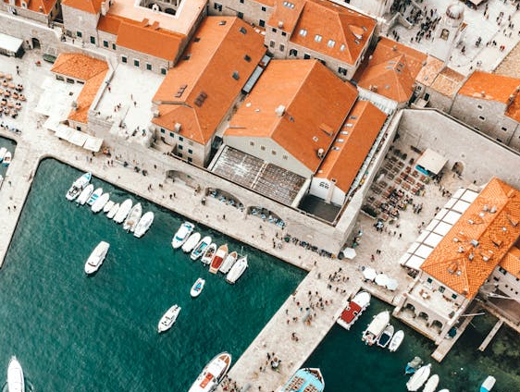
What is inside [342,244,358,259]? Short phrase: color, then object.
white umbrella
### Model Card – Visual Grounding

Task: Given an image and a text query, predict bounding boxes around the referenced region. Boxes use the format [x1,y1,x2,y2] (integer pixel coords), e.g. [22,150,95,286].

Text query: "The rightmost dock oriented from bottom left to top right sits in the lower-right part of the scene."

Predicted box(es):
[477,318,506,352]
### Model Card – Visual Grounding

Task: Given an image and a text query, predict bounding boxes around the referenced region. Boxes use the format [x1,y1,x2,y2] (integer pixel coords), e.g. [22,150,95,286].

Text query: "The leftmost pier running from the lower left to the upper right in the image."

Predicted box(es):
[213,271,363,392]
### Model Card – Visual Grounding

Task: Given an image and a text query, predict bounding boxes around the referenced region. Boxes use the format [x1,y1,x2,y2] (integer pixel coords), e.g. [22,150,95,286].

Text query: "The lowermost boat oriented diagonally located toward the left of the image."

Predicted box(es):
[188,350,226,392]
